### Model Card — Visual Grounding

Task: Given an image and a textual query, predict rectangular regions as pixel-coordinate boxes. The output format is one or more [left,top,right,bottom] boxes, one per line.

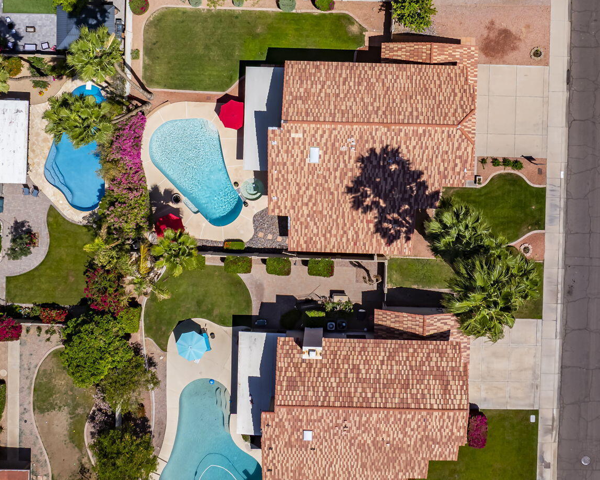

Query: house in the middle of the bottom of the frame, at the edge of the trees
[236,309,474,480]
